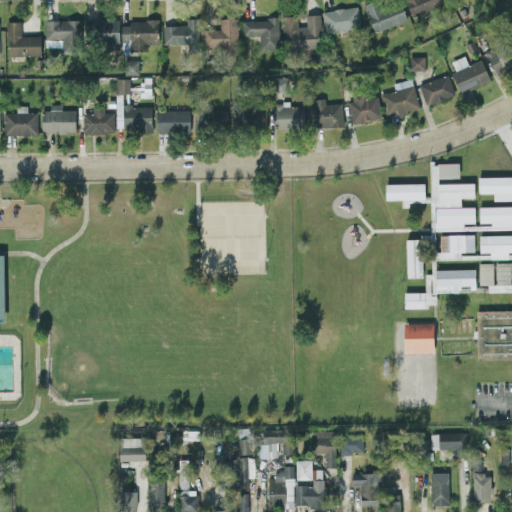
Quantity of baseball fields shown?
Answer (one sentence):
There is 1 baseball field in the image.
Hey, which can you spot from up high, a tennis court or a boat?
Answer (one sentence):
Looking from above, you can make out a tennis court.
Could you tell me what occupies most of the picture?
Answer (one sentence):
For the most part, this view shows grass.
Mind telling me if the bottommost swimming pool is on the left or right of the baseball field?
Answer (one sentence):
You can see the bottommost swimming pool positioned to the left of the baseball field.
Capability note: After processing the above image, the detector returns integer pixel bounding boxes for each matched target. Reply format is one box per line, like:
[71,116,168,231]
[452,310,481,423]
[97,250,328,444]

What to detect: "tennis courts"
[234,203,266,274]
[202,203,234,274]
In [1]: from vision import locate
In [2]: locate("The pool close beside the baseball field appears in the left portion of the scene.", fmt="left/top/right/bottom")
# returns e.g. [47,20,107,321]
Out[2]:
[0,335,22,400]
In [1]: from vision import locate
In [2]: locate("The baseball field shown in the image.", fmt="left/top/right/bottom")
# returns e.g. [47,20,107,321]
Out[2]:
[50,294,154,398]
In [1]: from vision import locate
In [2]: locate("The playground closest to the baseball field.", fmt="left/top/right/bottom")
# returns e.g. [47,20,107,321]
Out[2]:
[0,200,44,240]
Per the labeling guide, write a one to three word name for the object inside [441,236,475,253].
building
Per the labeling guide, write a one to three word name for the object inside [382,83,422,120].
house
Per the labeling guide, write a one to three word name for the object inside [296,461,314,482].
shed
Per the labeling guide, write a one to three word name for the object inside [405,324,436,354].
building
